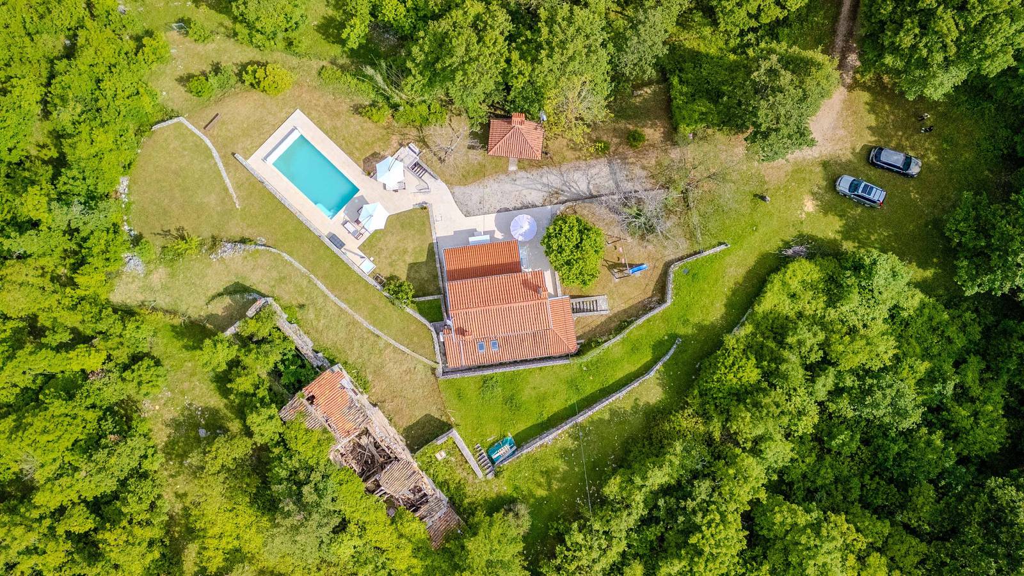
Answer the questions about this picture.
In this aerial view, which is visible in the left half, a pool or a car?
pool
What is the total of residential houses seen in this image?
2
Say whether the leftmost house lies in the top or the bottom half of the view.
bottom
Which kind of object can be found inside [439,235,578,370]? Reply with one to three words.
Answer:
house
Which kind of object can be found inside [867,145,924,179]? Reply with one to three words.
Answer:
car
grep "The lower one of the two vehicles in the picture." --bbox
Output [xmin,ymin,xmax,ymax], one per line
[834,174,892,209]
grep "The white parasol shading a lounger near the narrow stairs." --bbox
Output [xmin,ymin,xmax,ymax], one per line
[374,152,409,191]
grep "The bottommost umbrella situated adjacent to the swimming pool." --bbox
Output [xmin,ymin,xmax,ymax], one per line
[354,198,392,236]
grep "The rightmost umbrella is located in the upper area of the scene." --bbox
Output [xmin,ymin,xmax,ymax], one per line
[510,214,537,241]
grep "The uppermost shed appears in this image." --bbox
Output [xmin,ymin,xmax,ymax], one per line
[486,114,545,161]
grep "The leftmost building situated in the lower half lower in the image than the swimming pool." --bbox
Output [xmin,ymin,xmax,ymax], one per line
[280,355,469,549]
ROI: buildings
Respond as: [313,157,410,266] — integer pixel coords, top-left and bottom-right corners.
[439,235,578,370]
[280,355,469,549]
[486,114,545,161]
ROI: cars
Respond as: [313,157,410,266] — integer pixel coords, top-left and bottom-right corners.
[834,174,892,209]
[867,145,924,179]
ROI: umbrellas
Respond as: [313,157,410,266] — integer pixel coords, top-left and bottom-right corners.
[374,152,409,191]
[354,198,392,236]
[510,214,537,241]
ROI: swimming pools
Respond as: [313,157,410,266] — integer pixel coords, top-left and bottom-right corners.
[269,131,362,223]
